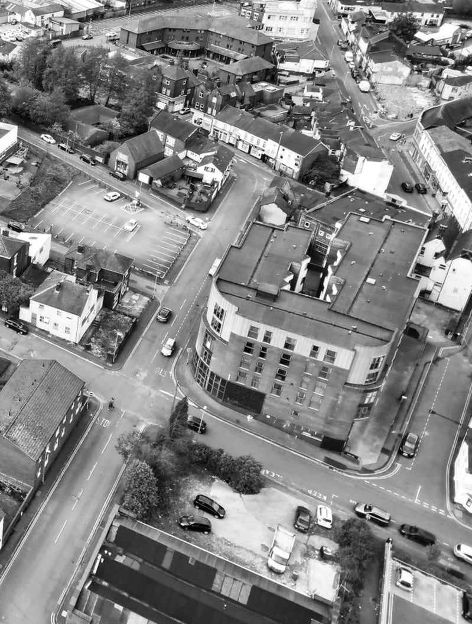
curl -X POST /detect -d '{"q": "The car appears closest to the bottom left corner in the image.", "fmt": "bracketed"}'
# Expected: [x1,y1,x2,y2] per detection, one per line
[177,515,213,536]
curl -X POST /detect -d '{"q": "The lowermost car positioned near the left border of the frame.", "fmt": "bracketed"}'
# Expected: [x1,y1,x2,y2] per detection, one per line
[3,320,30,336]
